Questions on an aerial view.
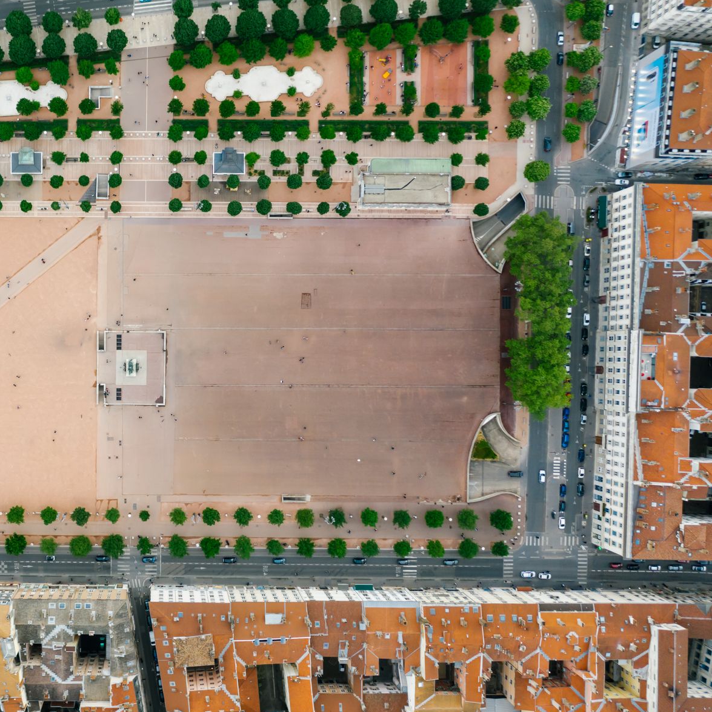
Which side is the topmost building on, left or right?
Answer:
right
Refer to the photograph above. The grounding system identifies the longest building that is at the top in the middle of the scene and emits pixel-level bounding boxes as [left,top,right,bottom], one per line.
[355,159,453,210]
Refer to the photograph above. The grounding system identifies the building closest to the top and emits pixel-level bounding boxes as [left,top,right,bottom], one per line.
[642,0,712,33]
